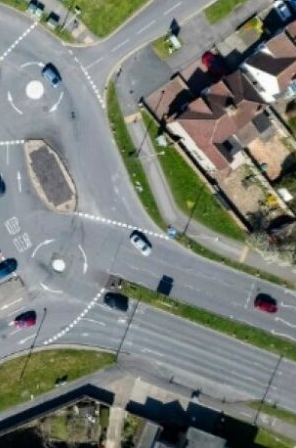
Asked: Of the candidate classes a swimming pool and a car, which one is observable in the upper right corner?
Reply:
car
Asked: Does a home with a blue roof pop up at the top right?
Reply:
No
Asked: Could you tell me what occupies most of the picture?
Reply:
paved ground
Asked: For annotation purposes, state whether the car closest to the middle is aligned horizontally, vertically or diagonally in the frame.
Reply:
diagonally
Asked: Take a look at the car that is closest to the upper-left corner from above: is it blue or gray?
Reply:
blue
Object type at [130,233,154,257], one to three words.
car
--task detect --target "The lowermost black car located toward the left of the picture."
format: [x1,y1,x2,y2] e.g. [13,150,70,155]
[104,296,131,312]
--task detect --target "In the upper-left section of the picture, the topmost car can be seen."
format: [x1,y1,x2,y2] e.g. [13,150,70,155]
[42,63,62,87]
